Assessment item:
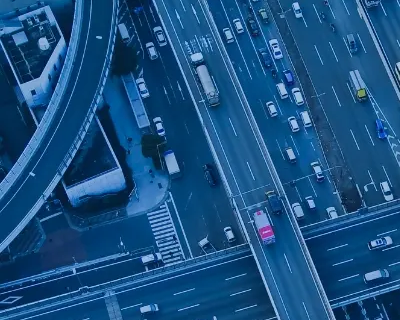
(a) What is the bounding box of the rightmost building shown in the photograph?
[61,109,123,203]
